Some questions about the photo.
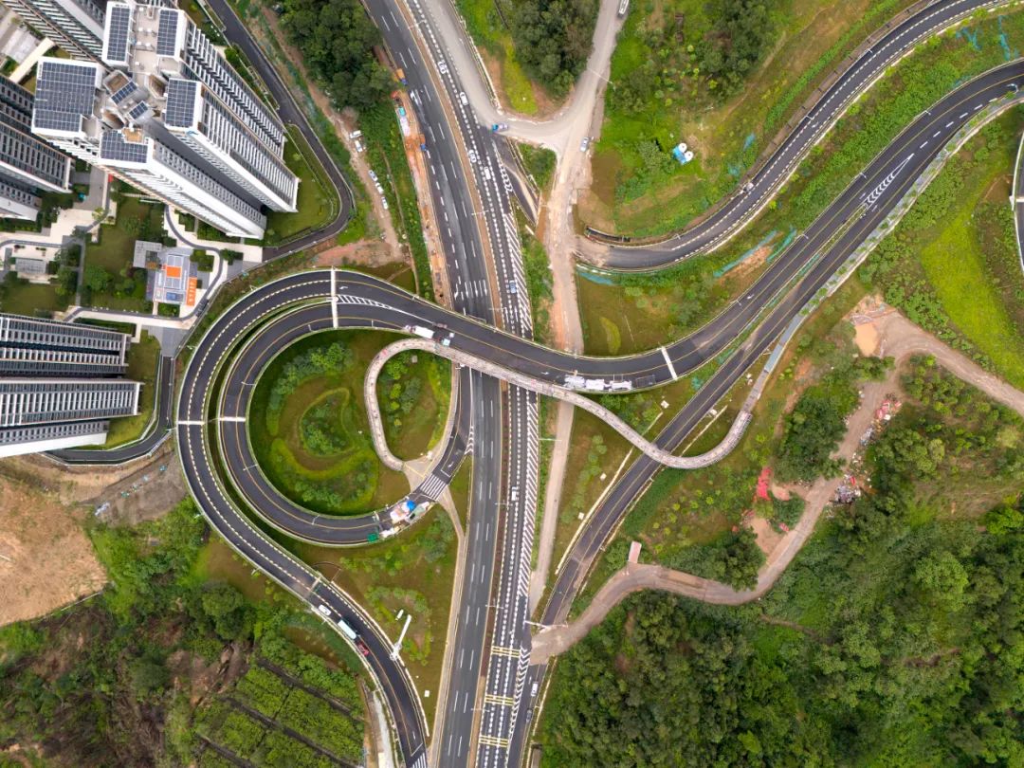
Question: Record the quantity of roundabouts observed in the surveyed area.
none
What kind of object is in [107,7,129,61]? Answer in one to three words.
solar panel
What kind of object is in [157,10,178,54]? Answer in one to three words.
solar panel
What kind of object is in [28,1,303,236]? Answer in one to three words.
building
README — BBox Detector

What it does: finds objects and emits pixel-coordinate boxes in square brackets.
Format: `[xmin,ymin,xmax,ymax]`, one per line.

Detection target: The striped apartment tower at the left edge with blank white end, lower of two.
[0,381,141,460]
